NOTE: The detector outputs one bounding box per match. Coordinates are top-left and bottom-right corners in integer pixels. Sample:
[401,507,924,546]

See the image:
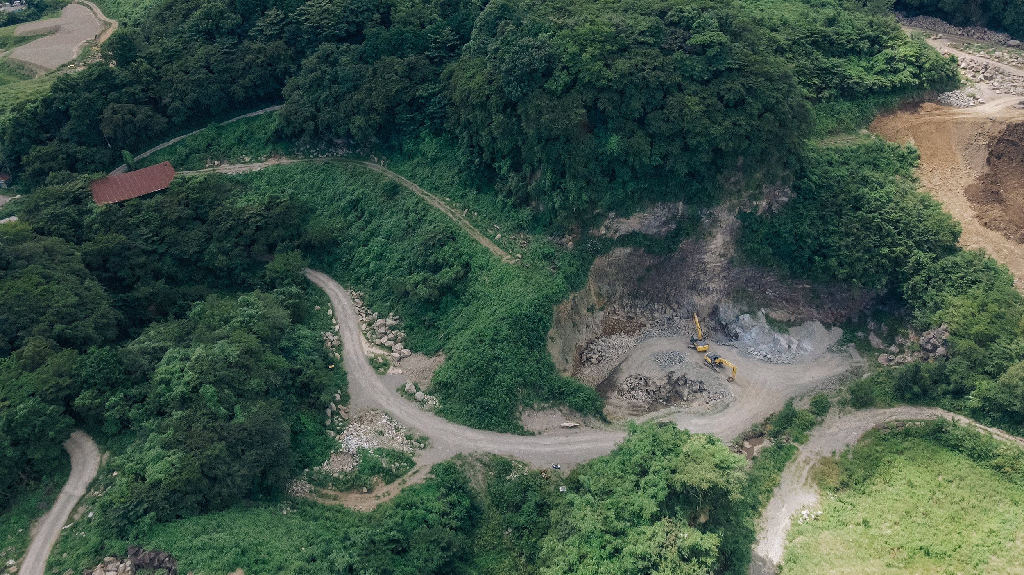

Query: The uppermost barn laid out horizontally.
[91,160,181,215]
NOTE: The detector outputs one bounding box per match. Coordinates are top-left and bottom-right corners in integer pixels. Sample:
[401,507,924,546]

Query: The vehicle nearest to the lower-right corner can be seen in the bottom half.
[701,351,740,379]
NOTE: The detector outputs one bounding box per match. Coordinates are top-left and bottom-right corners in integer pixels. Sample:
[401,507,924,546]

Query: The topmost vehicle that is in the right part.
[683,305,709,351]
